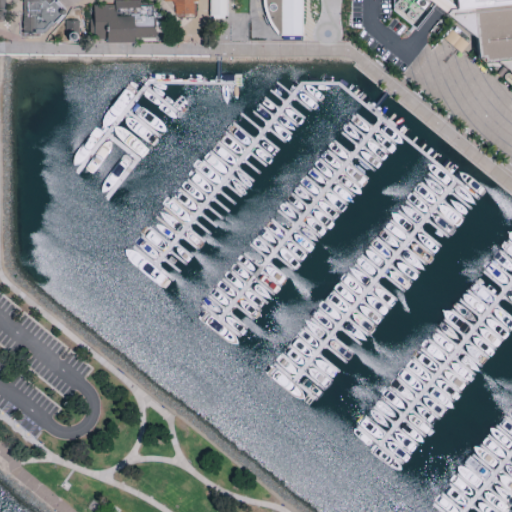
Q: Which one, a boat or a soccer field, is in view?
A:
boat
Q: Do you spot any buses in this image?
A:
No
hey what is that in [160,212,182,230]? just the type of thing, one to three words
boat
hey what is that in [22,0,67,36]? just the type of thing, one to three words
building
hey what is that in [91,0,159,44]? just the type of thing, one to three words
building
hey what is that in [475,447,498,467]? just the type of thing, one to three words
boat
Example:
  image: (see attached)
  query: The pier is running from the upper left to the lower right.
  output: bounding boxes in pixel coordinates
[296,76,483,204]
